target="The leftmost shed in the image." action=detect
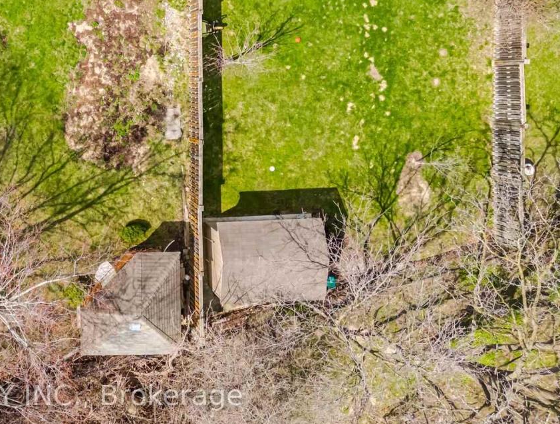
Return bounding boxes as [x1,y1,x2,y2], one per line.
[79,244,182,357]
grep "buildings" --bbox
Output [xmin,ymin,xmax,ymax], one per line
[79,244,182,357]
[207,217,326,310]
